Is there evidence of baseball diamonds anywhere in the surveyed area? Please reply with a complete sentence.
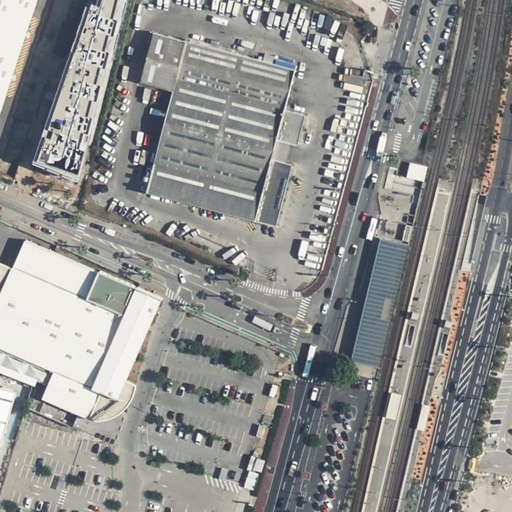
No, there is no baseball diamond in the image.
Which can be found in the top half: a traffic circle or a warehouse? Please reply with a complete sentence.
Visible in the top half is a warehouse.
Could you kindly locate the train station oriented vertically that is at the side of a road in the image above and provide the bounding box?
[362,178,481,512]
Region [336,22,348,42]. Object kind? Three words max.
vehicle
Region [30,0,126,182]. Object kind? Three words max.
building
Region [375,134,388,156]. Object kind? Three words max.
vehicle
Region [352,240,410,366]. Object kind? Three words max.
building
